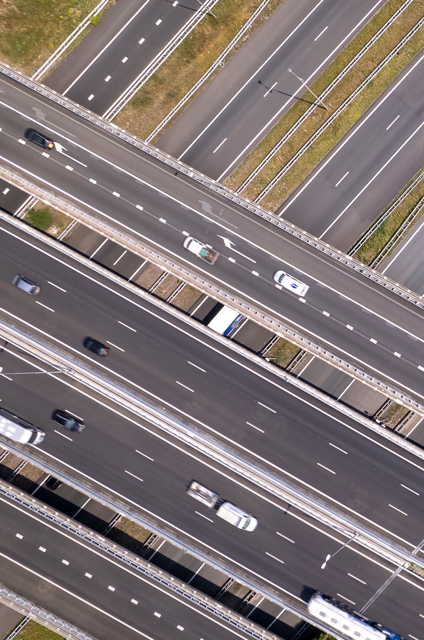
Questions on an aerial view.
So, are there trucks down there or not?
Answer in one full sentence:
Yes, I can see a truck in this picture.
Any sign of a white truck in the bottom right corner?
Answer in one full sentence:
Yes, a white truck can be seen in the bottom right corner.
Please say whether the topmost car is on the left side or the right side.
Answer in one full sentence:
It is on the left.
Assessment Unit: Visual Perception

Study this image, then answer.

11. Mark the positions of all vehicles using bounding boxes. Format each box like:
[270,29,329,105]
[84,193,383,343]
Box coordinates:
[25,128,57,152]
[14,274,42,296]
[85,336,112,358]
[311,591,408,640]
[277,271,313,298]
[219,500,260,529]
[47,479,65,493]
[0,406,55,446]
[207,307,244,338]
[186,239,224,267]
